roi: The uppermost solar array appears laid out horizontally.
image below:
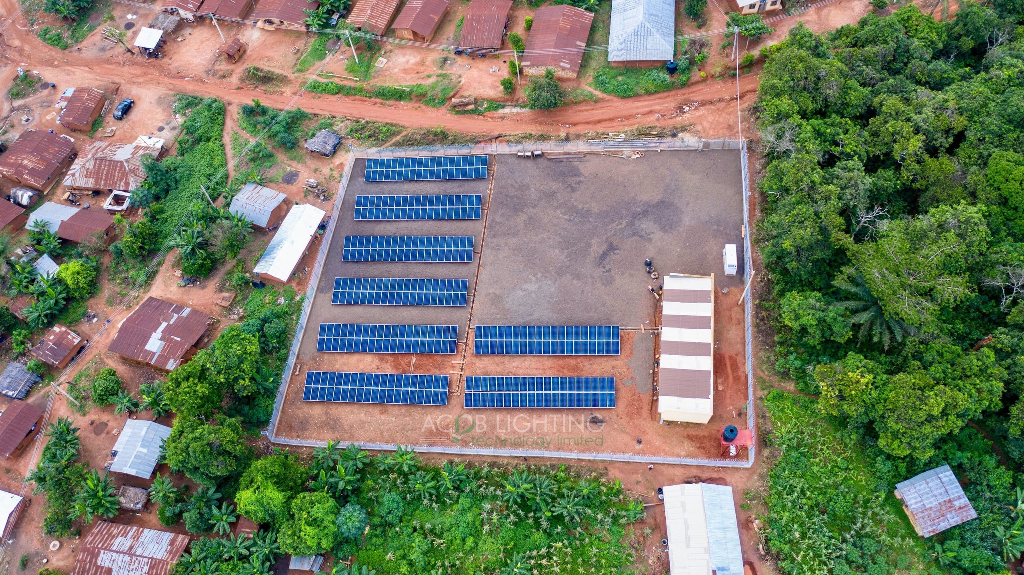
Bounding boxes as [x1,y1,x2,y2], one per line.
[364,158,488,182]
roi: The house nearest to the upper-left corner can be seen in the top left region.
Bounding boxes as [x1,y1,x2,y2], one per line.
[54,87,105,134]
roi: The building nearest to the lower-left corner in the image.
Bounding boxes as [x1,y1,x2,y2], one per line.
[0,489,31,541]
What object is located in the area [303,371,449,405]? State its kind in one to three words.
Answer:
solar array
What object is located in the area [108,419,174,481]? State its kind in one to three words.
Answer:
house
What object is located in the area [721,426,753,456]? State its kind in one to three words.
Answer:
water tower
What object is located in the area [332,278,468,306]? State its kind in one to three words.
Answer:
solar array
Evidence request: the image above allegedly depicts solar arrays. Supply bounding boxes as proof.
[303,371,449,405]
[473,325,619,357]
[354,195,482,220]
[317,323,457,354]
[342,236,474,262]
[332,278,468,306]
[364,158,488,182]
[464,376,615,413]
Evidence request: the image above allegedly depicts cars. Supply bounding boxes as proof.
[327,7,347,26]
[112,98,132,119]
